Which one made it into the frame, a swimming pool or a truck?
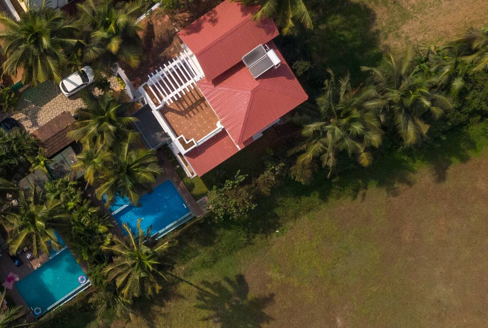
swimming pool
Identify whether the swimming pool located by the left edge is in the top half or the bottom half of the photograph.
bottom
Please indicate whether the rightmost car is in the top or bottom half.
top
